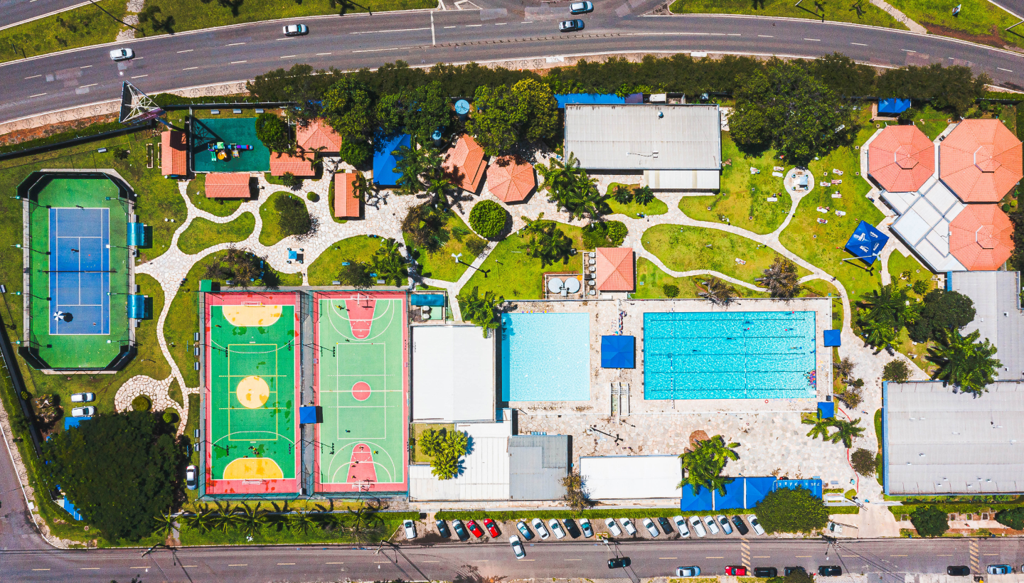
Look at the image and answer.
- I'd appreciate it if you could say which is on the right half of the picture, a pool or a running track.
pool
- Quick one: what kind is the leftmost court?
tennis court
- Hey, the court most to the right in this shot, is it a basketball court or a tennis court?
basketball court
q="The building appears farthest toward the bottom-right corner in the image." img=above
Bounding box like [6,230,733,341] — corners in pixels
[880,376,1024,495]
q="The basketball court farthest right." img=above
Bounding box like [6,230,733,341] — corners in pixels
[314,292,406,492]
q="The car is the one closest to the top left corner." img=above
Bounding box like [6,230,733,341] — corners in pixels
[109,46,135,61]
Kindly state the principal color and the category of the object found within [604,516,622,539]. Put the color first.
white car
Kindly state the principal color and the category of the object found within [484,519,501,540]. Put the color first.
red car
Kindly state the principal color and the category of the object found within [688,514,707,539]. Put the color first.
white car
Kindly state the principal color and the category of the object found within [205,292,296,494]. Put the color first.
green sports court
